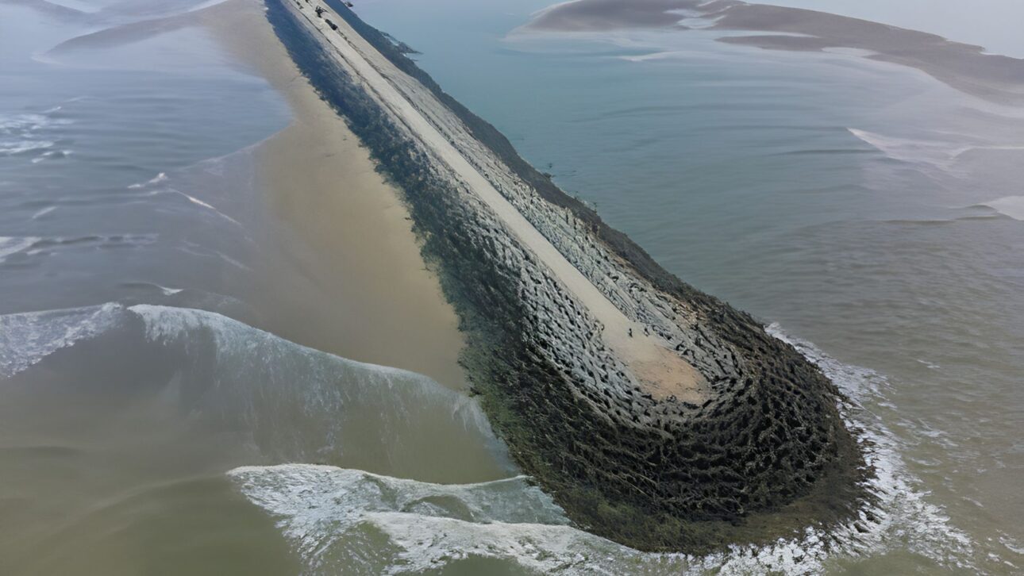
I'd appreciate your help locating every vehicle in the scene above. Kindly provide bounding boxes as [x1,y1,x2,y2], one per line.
[296,0,303,7]
[328,22,336,30]
[314,7,330,18]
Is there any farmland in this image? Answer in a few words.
No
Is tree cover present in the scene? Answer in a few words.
No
